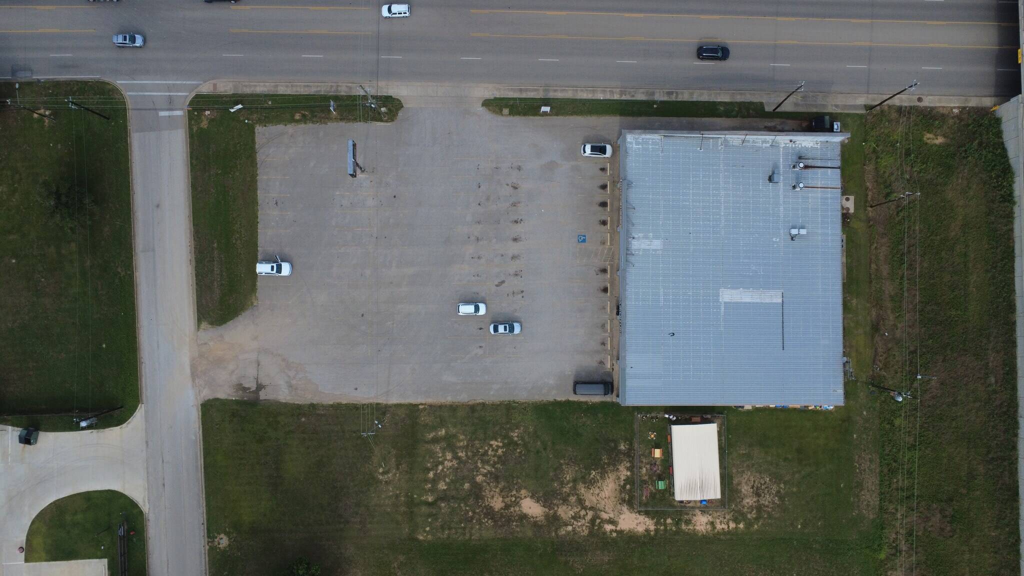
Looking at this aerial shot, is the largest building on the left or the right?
right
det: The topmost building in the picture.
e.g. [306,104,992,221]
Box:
[614,131,850,407]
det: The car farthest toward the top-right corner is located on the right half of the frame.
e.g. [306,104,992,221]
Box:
[696,45,729,61]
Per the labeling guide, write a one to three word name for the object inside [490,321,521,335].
car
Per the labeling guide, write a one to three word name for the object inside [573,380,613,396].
vehicle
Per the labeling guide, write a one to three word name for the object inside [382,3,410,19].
car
